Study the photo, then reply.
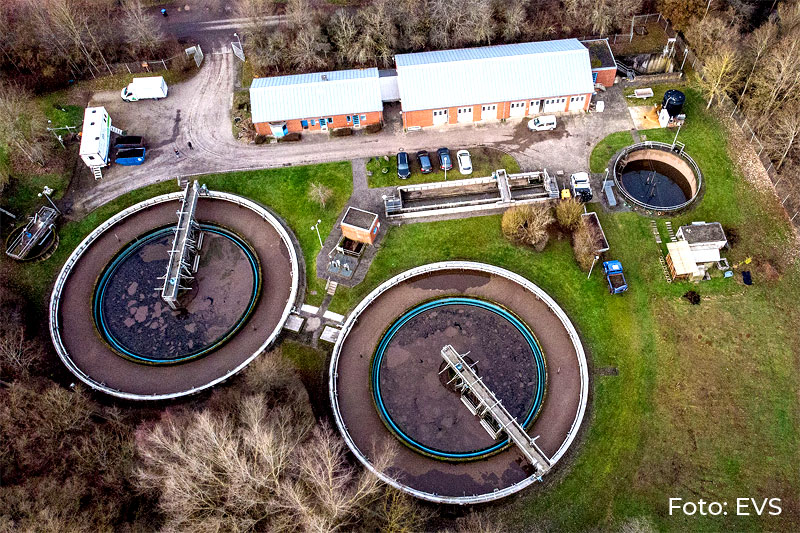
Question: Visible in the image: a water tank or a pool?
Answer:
water tank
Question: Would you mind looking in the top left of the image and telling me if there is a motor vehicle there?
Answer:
Yes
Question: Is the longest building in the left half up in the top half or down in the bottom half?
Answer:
top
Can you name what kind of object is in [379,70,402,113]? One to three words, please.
building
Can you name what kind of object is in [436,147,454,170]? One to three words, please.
car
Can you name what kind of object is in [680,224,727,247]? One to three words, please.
shed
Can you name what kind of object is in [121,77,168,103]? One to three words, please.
truck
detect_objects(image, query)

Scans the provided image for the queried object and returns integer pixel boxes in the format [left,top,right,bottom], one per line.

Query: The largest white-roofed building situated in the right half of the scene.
[396,38,595,129]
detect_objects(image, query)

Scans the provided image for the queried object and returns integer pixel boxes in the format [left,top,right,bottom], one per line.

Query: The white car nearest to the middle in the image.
[457,150,473,174]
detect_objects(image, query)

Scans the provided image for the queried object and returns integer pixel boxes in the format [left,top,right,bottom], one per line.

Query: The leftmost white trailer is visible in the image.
[80,106,125,182]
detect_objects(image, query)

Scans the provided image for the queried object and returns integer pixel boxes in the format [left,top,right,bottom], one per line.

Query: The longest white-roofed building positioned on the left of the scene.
[249,68,383,141]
